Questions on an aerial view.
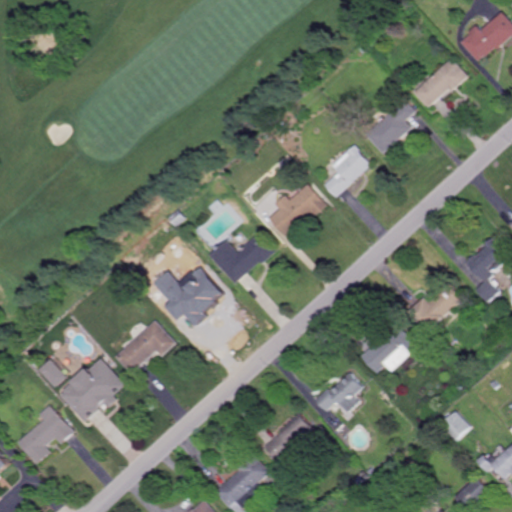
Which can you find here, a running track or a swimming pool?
swimming pool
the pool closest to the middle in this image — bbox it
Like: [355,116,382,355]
[196,200,244,248]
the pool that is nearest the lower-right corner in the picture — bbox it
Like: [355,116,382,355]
[348,424,372,452]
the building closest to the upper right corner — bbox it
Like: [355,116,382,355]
[458,12,512,62]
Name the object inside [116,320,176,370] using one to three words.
house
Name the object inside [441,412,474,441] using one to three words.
barn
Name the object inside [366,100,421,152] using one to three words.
house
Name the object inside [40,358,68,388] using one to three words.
building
